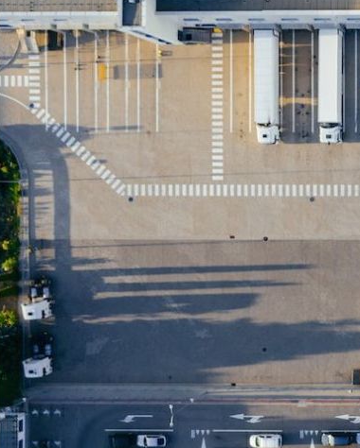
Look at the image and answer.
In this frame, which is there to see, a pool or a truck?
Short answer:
truck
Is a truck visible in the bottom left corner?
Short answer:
Yes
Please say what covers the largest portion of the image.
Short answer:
paved ground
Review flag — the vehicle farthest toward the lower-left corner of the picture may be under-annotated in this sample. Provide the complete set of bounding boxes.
[26,337,60,383]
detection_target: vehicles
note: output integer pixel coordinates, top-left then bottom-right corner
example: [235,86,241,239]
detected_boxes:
[139,433,167,448]
[319,31,343,145]
[323,431,353,447]
[26,337,60,383]
[250,433,283,448]
[110,433,140,448]
[255,31,281,145]
[25,281,58,326]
